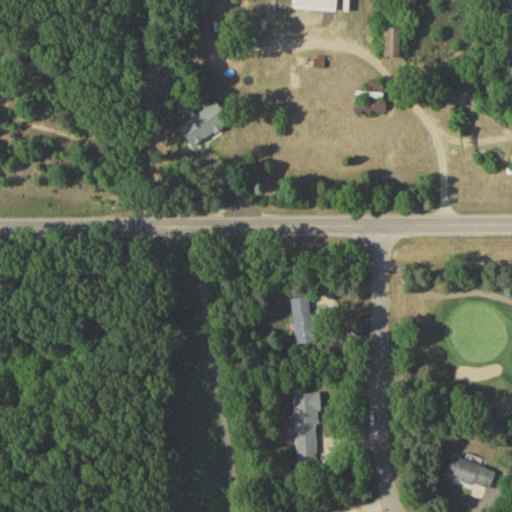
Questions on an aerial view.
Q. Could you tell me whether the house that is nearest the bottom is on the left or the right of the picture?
right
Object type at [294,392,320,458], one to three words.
house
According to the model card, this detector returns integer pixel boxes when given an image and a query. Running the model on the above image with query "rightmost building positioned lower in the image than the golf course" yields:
[450,454,496,499]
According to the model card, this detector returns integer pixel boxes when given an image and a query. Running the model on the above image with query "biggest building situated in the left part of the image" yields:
[182,102,226,150]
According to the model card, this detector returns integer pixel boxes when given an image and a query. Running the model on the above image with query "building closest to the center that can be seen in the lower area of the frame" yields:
[290,296,316,345]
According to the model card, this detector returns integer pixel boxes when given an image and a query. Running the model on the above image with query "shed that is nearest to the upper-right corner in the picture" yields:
[384,27,400,57]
